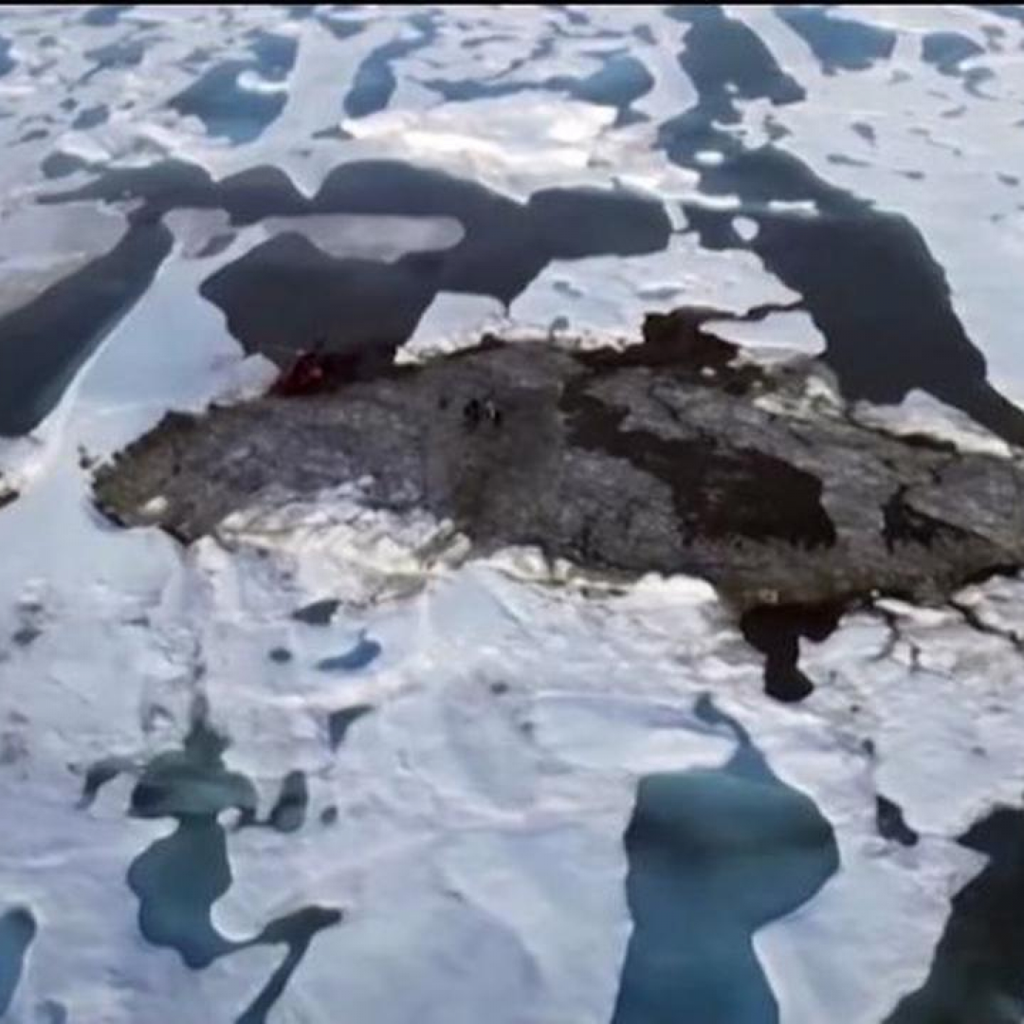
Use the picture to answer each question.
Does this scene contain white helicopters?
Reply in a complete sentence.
No, I find no white helicopter anywhere in the image.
